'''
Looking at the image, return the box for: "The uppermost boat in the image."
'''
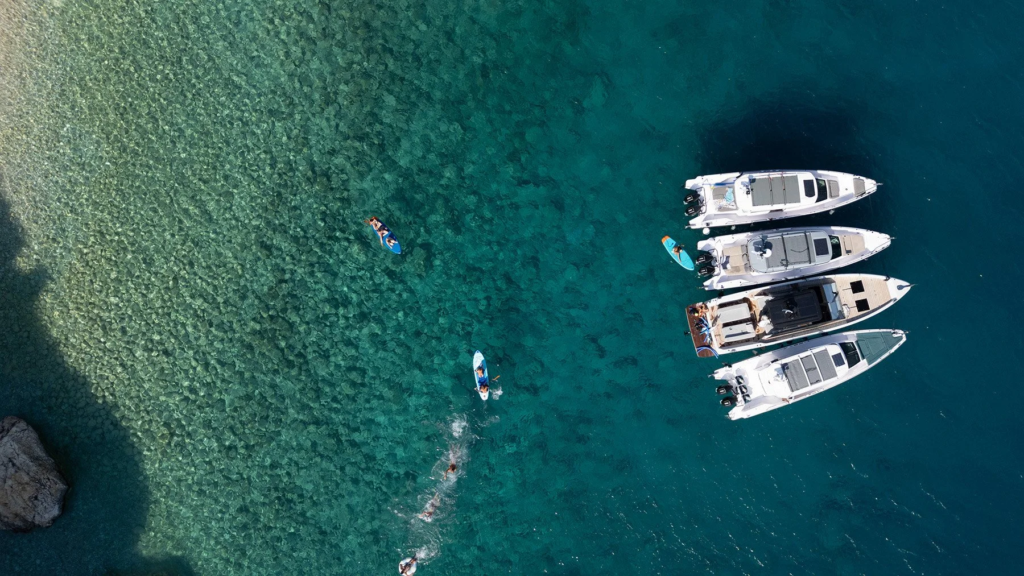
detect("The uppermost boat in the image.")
[680,170,886,232]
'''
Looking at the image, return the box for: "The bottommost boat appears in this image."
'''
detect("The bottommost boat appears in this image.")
[711,329,915,418]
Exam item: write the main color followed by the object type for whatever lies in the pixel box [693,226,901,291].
white boat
